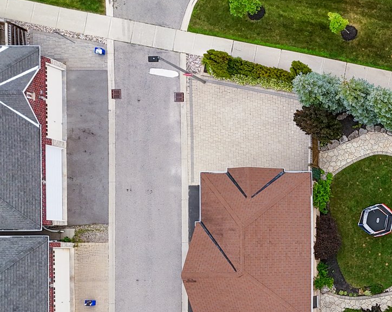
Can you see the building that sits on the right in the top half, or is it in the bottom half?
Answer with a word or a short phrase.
bottom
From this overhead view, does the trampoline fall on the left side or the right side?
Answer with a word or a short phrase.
right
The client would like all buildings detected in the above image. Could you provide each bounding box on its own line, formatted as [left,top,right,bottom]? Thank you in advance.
[0,235,82,312]
[180,167,322,312]
[0,43,85,233]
